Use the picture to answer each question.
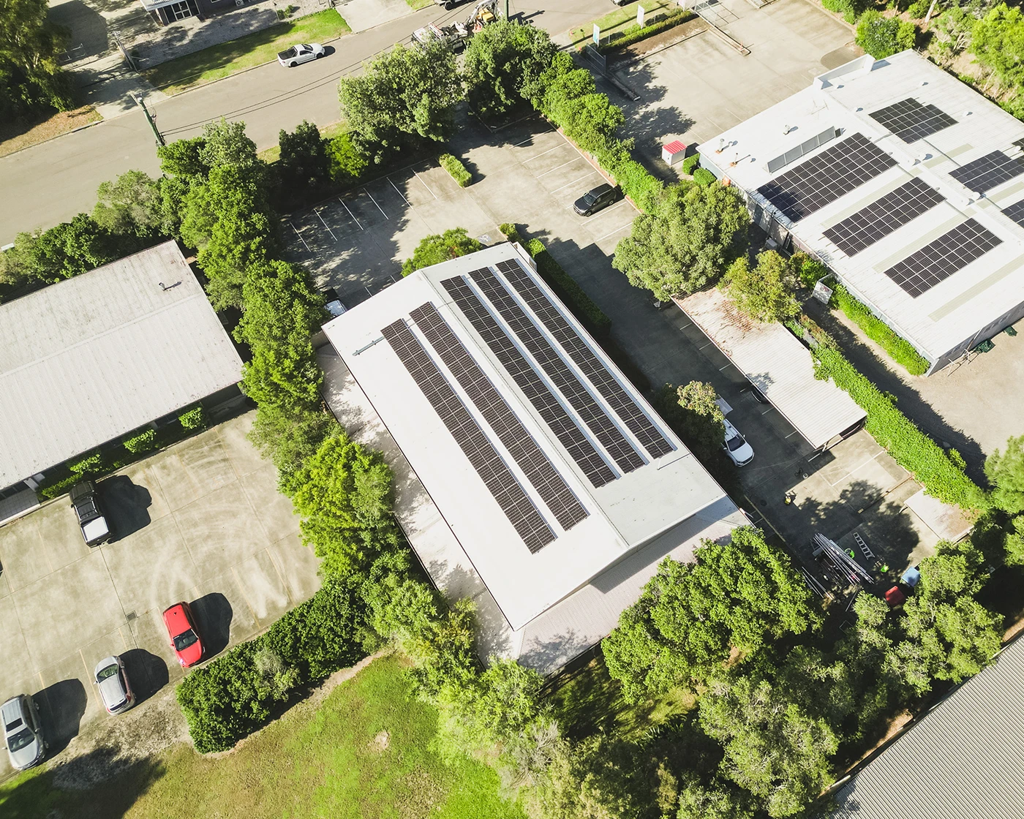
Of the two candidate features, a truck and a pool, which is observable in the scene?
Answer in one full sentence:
It is a truck that can be seen here.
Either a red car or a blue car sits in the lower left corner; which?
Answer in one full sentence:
Looking in the lower left corner, you will find a red car.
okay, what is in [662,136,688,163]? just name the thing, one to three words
shed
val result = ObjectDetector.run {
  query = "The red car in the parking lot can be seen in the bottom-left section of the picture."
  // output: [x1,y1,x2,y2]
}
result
[154,601,206,669]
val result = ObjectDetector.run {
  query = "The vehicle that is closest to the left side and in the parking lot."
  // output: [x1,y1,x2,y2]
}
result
[0,691,46,773]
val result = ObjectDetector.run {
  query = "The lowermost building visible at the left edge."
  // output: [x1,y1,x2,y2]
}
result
[0,239,250,501]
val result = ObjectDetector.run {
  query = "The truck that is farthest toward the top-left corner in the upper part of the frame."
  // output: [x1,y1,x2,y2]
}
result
[278,43,326,67]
